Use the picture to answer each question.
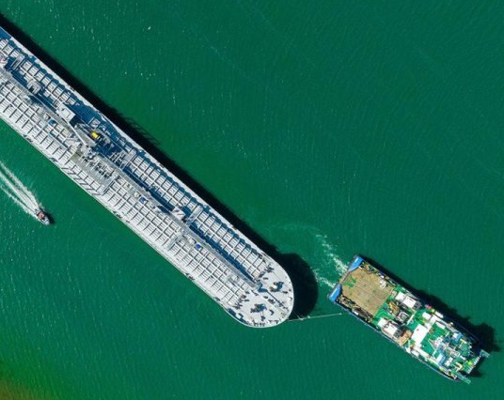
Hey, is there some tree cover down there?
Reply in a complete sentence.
No, the scene doesn't show any tree cover.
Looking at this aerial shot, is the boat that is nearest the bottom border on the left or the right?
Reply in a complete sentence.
You can find the boat that is nearest the bottom border on the right side of the picture.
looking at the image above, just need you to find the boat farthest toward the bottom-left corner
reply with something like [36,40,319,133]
[35,208,50,224]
